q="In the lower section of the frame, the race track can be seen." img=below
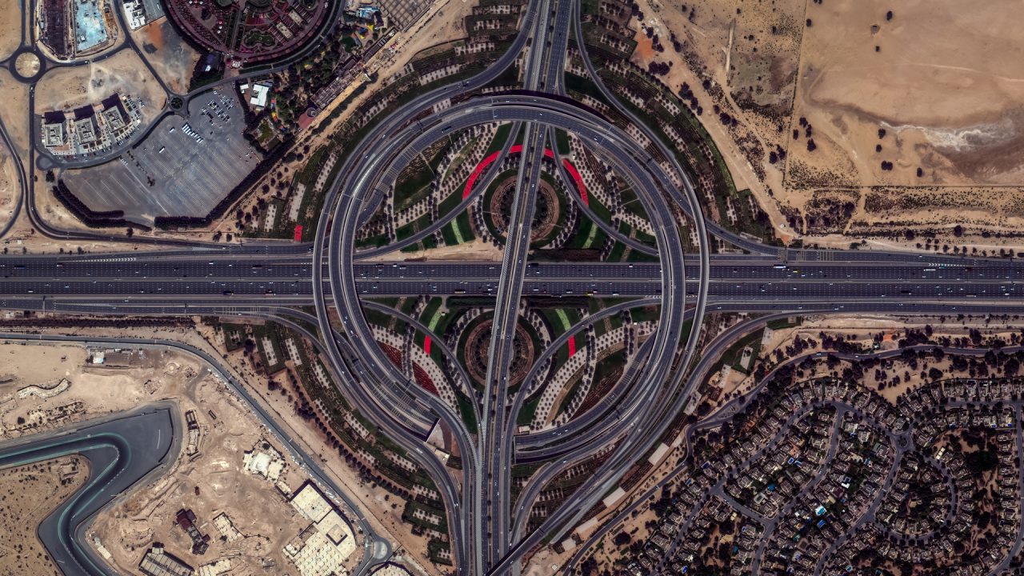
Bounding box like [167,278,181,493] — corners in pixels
[0,394,187,576]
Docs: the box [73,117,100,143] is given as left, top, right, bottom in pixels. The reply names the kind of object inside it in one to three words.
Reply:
building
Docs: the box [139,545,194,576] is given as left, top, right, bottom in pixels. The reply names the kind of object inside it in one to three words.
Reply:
shed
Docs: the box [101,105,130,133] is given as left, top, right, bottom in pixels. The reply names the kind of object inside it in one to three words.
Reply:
building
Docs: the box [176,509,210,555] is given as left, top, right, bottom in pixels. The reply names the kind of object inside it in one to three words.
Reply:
house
